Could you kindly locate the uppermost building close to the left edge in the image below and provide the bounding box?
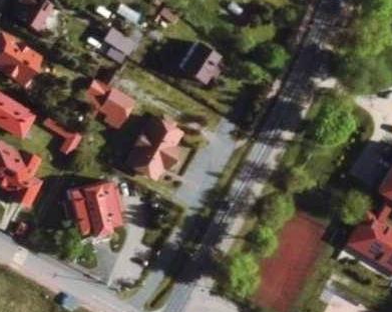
[17,0,63,33]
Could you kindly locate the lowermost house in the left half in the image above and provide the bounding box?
[58,182,124,247]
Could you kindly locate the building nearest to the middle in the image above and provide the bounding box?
[132,112,184,180]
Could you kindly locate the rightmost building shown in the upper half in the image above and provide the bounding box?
[181,44,223,84]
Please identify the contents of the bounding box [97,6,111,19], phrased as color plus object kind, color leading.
white vehicle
